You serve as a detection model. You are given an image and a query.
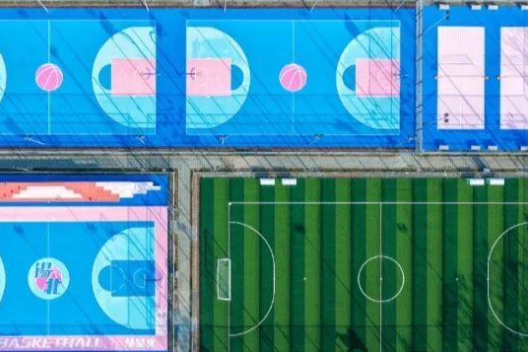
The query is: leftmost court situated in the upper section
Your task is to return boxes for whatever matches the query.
[0,7,171,147]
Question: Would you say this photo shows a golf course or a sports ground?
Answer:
sports ground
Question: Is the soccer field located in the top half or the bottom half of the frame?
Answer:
bottom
